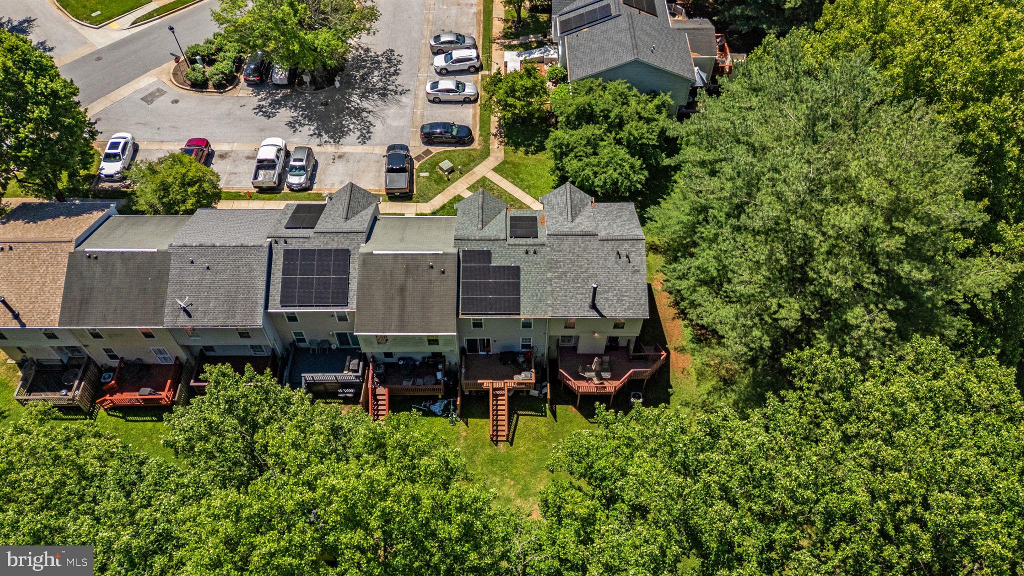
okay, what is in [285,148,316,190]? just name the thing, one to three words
car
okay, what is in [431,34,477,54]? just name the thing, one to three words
car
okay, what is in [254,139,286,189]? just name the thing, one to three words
truck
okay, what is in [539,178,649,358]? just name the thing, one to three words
house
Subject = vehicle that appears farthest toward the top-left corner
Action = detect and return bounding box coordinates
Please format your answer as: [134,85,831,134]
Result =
[99,135,135,178]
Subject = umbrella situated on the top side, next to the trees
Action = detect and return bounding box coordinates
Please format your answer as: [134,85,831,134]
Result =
[688,83,711,109]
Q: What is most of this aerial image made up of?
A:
trees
